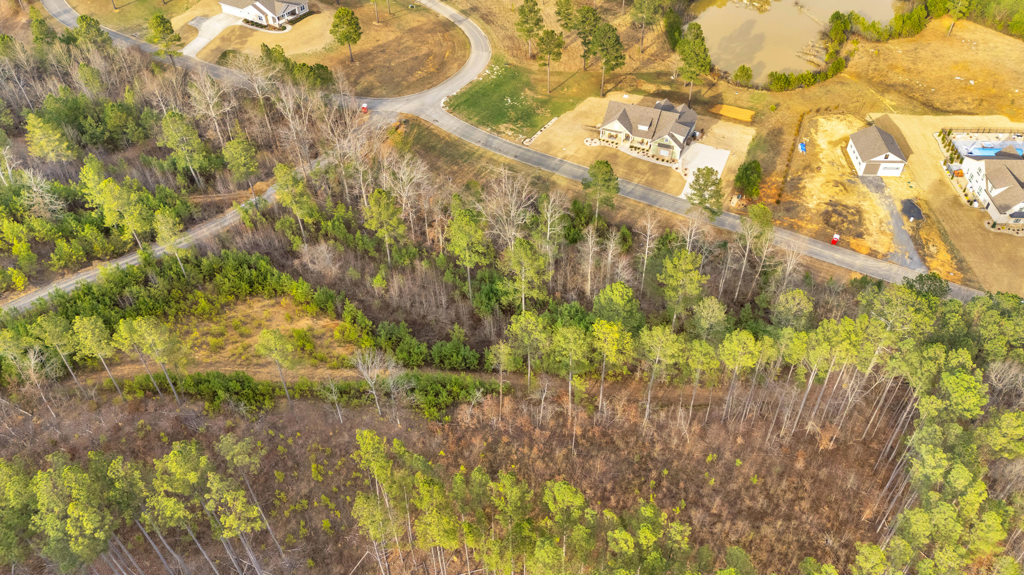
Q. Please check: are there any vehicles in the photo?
No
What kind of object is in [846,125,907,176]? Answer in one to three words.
building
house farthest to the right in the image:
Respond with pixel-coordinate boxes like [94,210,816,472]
[956,144,1024,224]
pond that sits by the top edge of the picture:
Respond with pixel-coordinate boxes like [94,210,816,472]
[685,0,905,83]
